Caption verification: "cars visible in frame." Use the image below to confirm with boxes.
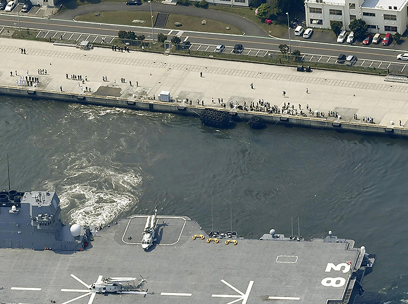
[336,31,348,42]
[302,27,314,39]
[180,42,191,50]
[361,34,373,45]
[126,0,143,5]
[0,0,9,9]
[293,23,306,36]
[372,32,382,43]
[4,2,16,10]
[344,56,357,66]
[214,44,227,53]
[381,32,393,45]
[344,30,357,43]
[20,3,33,12]
[335,53,348,64]
[397,53,408,60]
[232,45,244,53]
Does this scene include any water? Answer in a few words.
Yes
